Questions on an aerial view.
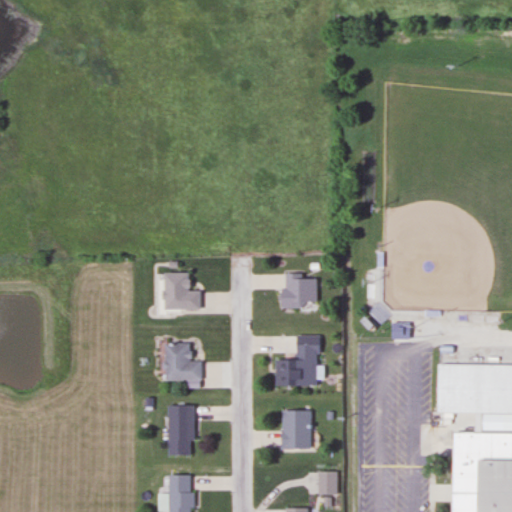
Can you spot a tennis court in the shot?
No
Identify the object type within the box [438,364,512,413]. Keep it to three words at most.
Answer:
building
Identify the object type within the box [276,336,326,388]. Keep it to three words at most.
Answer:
house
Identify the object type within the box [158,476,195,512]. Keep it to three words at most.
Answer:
house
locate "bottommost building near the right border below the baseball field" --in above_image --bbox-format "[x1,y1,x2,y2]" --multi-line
[452,433,512,512]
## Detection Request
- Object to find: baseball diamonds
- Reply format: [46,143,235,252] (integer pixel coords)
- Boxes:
[384,84,512,310]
